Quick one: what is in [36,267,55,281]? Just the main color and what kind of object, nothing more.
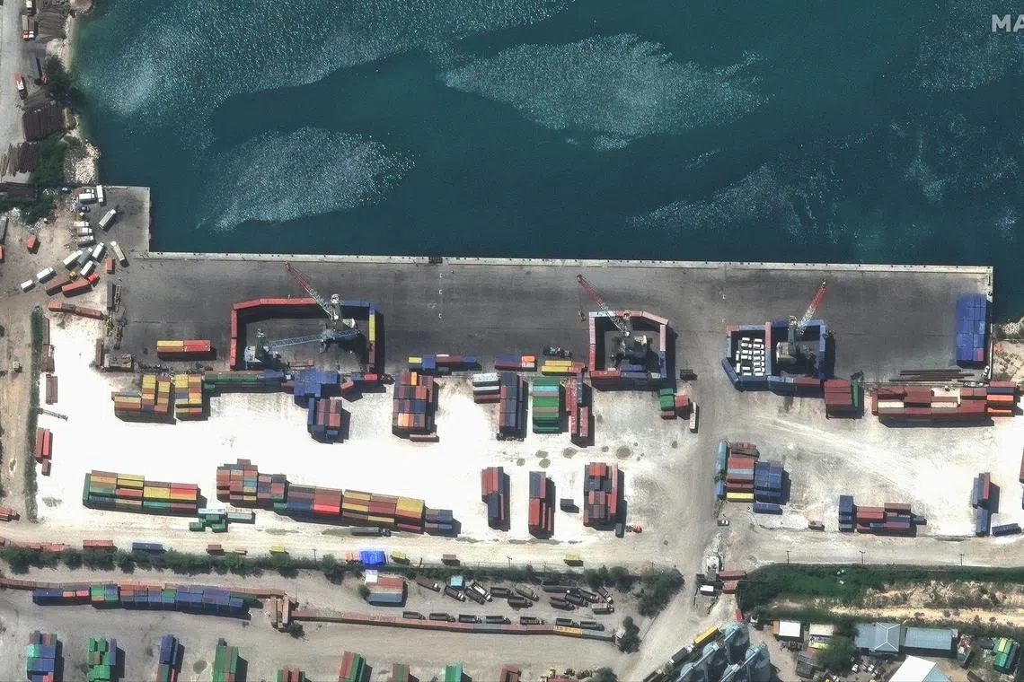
white vehicle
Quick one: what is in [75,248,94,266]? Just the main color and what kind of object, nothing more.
gray vehicle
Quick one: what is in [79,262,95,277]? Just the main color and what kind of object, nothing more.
white vehicle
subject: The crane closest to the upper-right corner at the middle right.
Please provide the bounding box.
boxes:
[775,279,827,375]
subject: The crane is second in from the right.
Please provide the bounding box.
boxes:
[577,274,651,364]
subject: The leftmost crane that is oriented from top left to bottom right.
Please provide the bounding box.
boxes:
[285,261,365,345]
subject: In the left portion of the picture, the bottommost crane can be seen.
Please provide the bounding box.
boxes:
[242,328,360,372]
